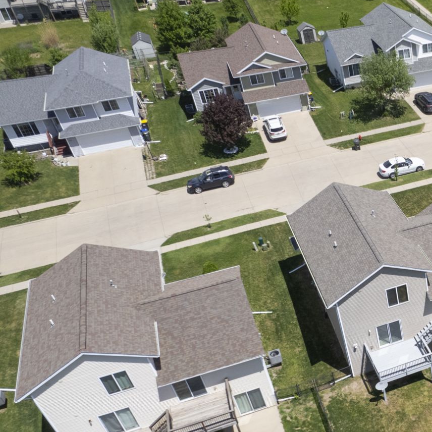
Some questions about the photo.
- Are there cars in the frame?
Yes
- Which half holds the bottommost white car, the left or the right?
right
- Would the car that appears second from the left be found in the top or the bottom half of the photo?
top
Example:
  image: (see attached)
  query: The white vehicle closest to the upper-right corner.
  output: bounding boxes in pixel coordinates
[379,156,426,179]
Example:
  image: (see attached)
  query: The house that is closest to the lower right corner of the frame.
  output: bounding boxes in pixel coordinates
[285,182,432,389]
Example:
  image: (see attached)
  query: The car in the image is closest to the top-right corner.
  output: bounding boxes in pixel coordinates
[417,90,432,111]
